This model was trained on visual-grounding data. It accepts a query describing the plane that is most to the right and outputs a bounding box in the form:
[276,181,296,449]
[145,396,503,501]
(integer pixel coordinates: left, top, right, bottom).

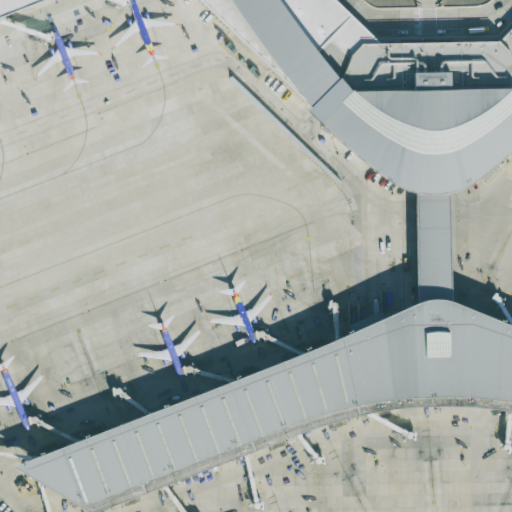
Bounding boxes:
[209,282,270,344]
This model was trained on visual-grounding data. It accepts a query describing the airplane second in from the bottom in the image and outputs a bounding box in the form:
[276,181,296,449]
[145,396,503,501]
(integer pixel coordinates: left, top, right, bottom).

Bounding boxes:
[137,316,199,378]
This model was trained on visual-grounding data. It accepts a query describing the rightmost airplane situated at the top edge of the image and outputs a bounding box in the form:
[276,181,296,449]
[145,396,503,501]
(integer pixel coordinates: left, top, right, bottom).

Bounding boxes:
[115,0,177,66]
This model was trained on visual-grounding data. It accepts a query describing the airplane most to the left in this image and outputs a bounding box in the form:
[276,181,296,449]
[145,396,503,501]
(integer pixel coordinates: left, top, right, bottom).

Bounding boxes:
[0,368,44,430]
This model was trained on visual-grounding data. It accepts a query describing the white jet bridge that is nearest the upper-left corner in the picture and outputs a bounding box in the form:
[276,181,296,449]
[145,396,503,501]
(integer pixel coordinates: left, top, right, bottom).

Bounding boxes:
[0,18,54,41]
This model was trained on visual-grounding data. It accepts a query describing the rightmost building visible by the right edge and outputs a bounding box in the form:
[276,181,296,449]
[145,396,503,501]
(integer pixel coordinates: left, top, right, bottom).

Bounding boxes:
[311,78,512,194]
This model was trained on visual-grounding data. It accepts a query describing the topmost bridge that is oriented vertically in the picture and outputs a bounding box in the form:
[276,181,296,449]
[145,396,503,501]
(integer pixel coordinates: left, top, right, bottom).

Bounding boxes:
[418,192,452,304]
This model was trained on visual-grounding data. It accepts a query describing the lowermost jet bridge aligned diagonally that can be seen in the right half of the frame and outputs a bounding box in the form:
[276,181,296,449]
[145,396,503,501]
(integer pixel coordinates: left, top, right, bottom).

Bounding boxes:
[298,435,326,466]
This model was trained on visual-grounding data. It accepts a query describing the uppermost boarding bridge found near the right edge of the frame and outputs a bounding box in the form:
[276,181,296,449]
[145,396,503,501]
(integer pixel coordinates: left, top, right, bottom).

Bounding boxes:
[491,292,512,324]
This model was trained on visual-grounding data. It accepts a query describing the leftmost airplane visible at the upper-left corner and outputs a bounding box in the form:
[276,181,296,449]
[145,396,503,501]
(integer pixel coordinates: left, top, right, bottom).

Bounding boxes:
[37,28,100,90]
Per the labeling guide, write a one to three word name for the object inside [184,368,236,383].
jet bridge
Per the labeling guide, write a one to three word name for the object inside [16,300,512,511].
building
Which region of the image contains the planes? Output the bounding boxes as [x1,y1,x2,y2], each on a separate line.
[37,28,100,90]
[0,368,44,430]
[137,316,199,378]
[209,282,270,344]
[115,0,177,66]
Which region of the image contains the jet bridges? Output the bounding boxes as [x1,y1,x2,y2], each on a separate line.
[254,332,306,354]
[328,304,340,340]
[0,450,40,460]
[110,385,153,414]
[28,419,76,445]
[502,412,512,456]
[162,486,187,512]
[109,0,132,8]
[491,292,512,324]
[369,414,419,440]
[184,368,236,383]
[0,18,54,41]
[246,455,262,512]
[298,435,326,466]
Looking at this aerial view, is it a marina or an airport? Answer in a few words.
airport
